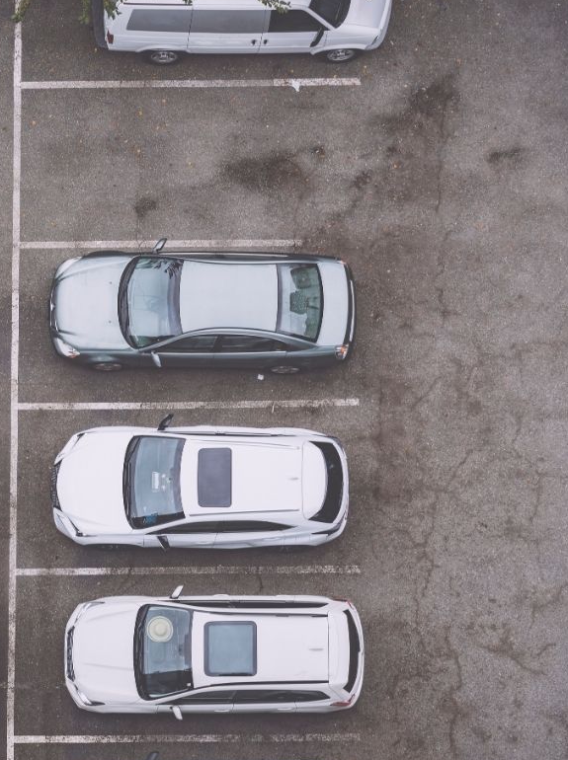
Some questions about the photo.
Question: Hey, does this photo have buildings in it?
No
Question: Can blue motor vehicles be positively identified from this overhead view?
No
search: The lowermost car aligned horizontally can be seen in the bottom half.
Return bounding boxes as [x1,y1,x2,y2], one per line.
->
[64,582,366,721]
